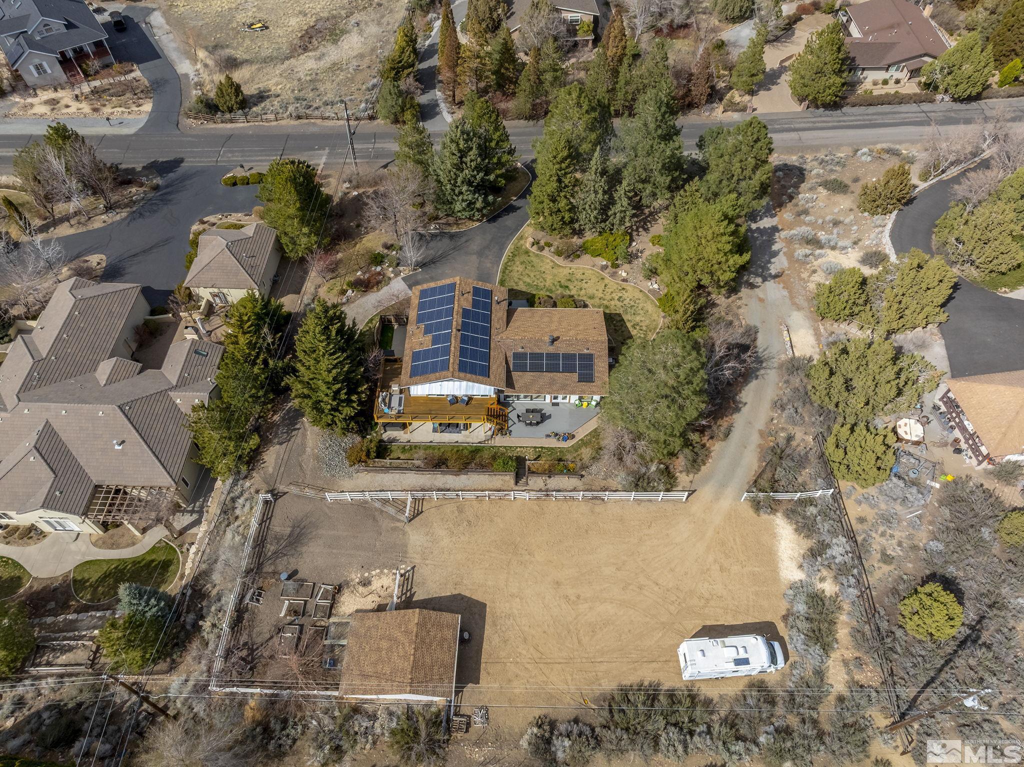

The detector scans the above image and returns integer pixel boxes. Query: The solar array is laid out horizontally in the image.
[513,354,597,384]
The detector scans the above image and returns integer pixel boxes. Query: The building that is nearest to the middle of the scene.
[398,278,610,410]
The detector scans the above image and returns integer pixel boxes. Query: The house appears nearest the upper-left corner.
[0,0,115,94]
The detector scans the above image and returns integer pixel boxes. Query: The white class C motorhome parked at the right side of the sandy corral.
[679,640,785,682]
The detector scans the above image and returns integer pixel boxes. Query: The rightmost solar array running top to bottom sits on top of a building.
[459,285,493,380]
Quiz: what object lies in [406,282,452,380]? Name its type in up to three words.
solar array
